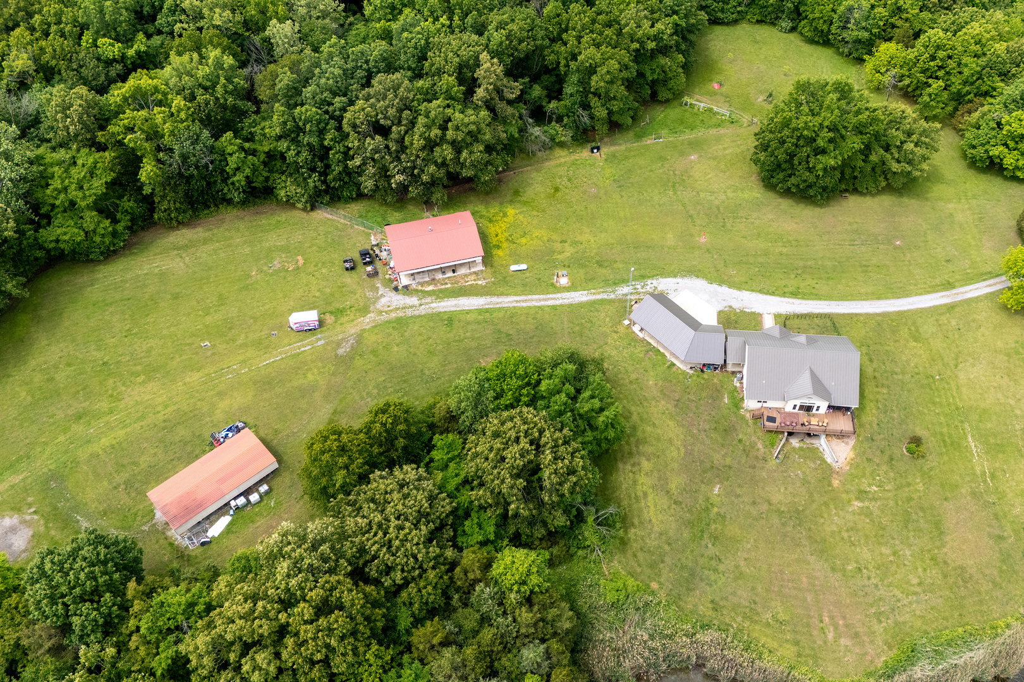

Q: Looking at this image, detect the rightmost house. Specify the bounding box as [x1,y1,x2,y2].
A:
[721,320,862,419]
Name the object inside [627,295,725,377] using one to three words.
building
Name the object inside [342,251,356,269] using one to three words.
vehicle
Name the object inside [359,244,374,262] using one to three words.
vehicle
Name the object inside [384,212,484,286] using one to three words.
barn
